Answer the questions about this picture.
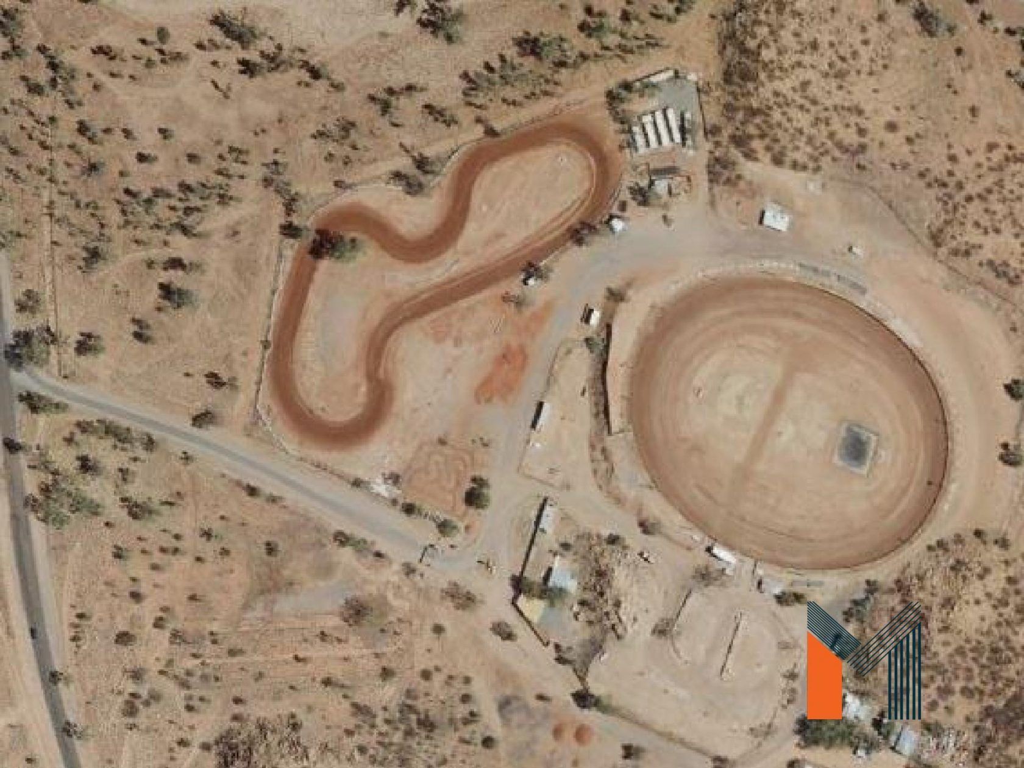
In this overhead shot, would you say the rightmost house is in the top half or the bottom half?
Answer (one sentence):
Seen from above, the rightmost house lies in the bottom half of the view.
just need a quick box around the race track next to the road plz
[265,111,623,453]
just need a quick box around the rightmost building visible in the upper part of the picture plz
[763,204,790,230]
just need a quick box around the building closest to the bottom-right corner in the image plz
[897,728,917,753]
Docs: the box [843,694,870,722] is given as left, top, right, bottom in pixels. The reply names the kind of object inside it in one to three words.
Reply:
shed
